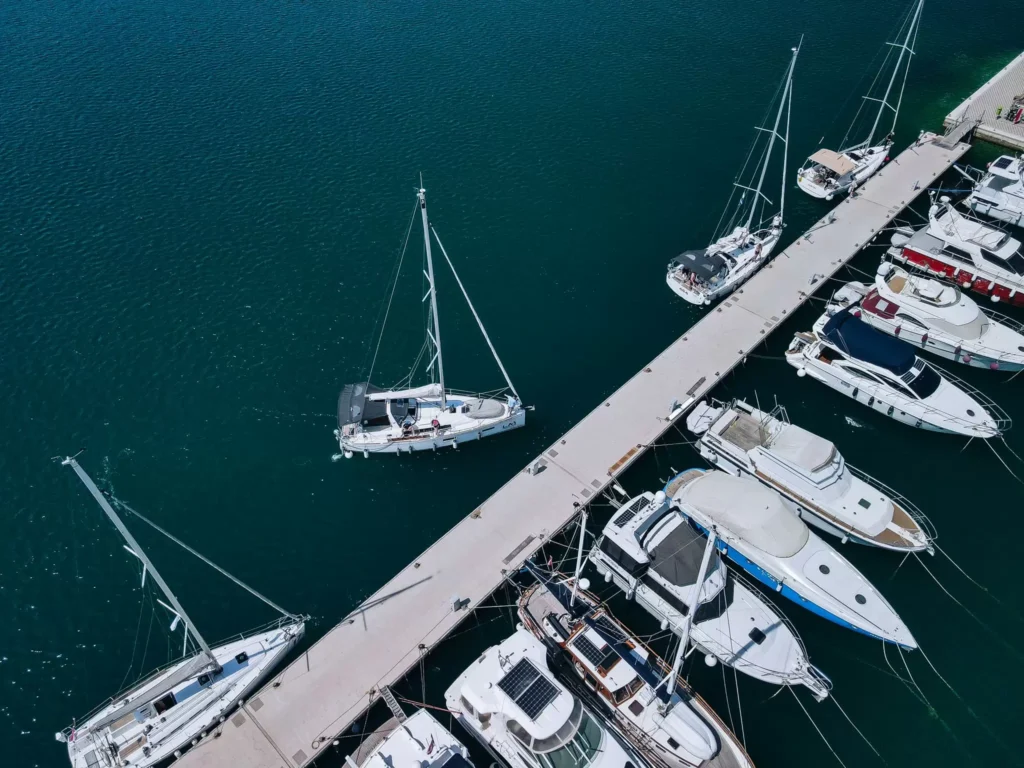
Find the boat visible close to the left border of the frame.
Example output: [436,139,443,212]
[44,458,313,768]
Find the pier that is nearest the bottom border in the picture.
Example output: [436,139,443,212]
[166,132,970,768]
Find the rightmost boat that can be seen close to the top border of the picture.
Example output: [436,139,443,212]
[794,0,929,201]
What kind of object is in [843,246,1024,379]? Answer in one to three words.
boat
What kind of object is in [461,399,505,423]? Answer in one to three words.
boat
